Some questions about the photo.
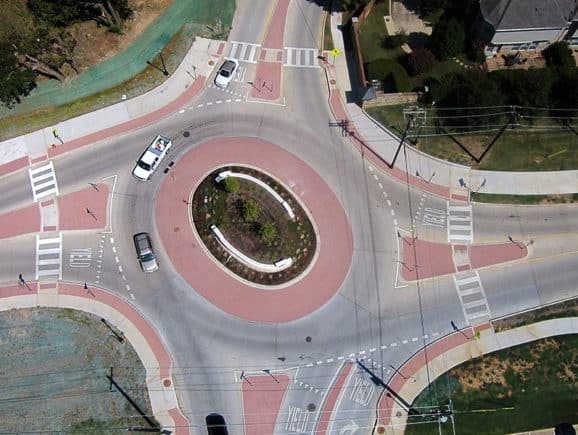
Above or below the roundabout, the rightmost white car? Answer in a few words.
above it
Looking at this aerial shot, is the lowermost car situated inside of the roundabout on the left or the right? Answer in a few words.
left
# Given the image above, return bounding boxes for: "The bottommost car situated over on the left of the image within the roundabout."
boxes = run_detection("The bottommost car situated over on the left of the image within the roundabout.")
[131,230,161,274]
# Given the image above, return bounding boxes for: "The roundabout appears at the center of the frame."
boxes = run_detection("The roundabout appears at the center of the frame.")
[107,98,402,376]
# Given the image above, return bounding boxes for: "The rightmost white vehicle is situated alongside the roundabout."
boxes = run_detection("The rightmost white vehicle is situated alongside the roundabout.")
[213,56,240,90]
